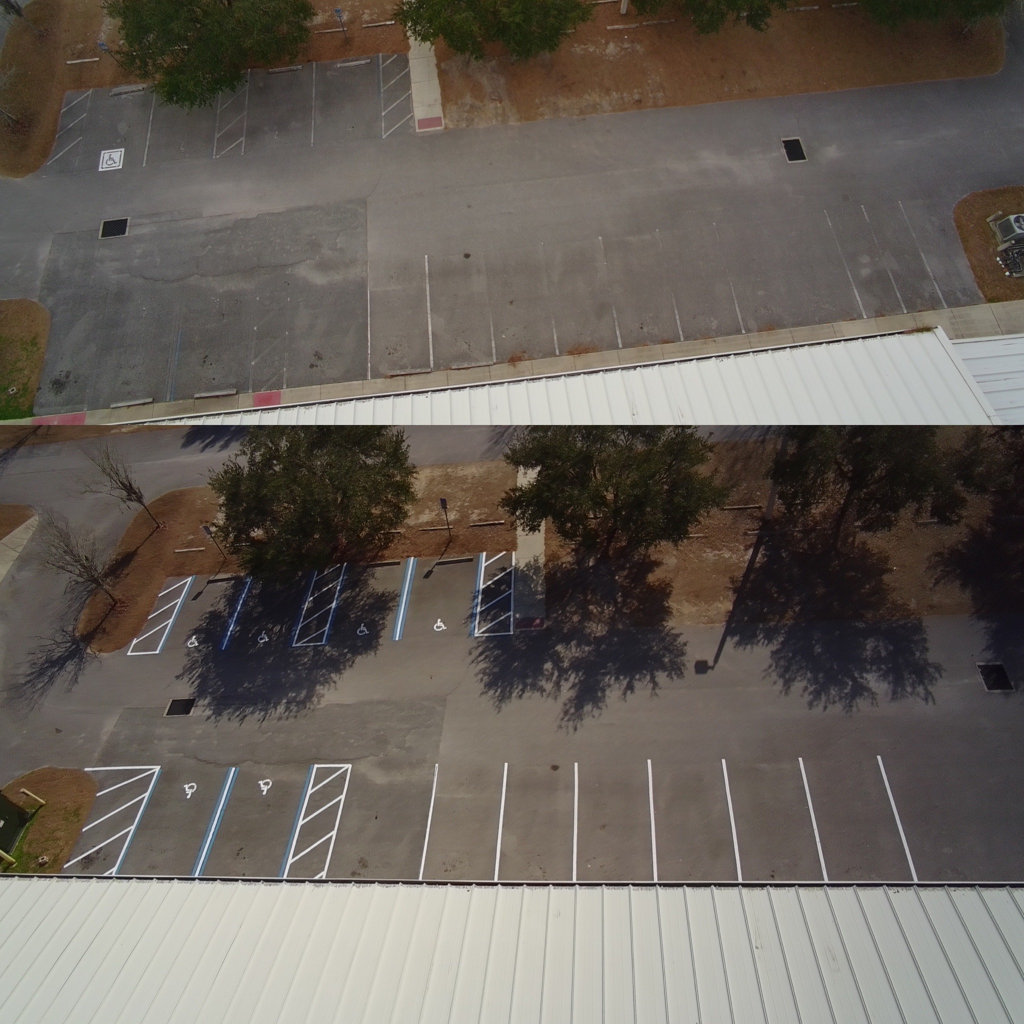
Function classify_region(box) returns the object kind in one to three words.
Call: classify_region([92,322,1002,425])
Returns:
building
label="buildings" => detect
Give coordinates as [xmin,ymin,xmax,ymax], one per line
[92,322,1002,425]
[0,873,1024,1024]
